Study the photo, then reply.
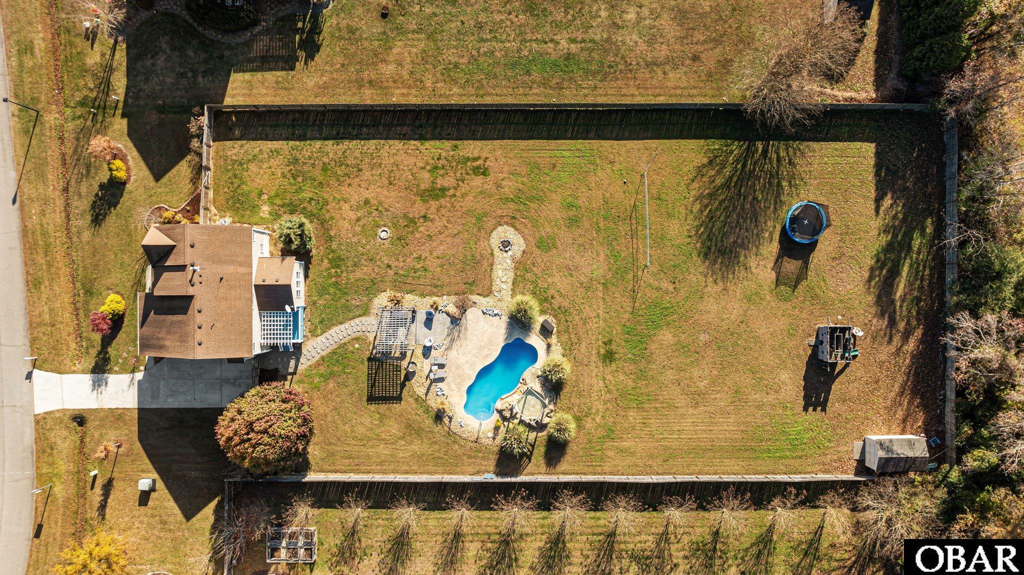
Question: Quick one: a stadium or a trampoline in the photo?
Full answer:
It is a trampoline that can be seen here.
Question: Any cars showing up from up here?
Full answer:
No, I find no car anywhere in the image.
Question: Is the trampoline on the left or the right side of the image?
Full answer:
You can find the trampoline on the right side of the picture.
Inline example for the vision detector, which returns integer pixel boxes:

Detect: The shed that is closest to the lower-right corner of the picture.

[866,436,934,472]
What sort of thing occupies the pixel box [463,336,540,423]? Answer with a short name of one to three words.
swimming pool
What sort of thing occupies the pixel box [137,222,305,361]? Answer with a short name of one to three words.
house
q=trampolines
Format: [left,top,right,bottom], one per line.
[781,199,833,243]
